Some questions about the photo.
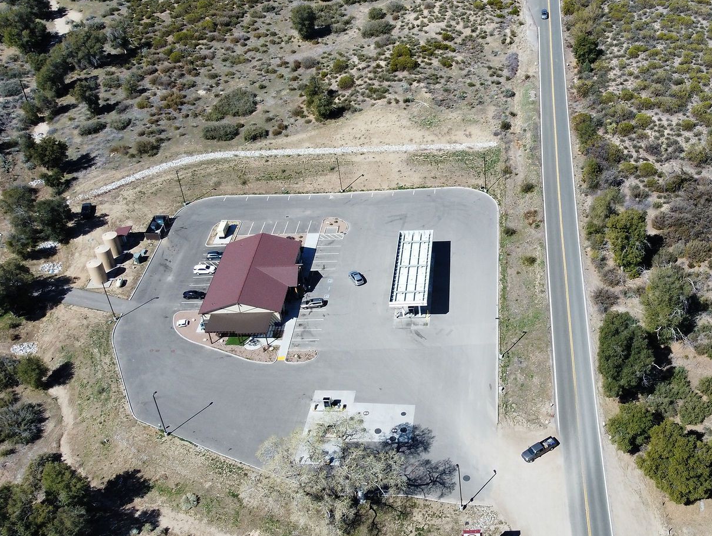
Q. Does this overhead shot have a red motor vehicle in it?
No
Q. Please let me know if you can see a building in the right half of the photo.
No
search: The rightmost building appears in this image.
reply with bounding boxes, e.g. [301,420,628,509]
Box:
[197,233,304,344]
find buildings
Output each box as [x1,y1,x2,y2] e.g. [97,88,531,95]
[197,233,304,344]
[116,225,134,244]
